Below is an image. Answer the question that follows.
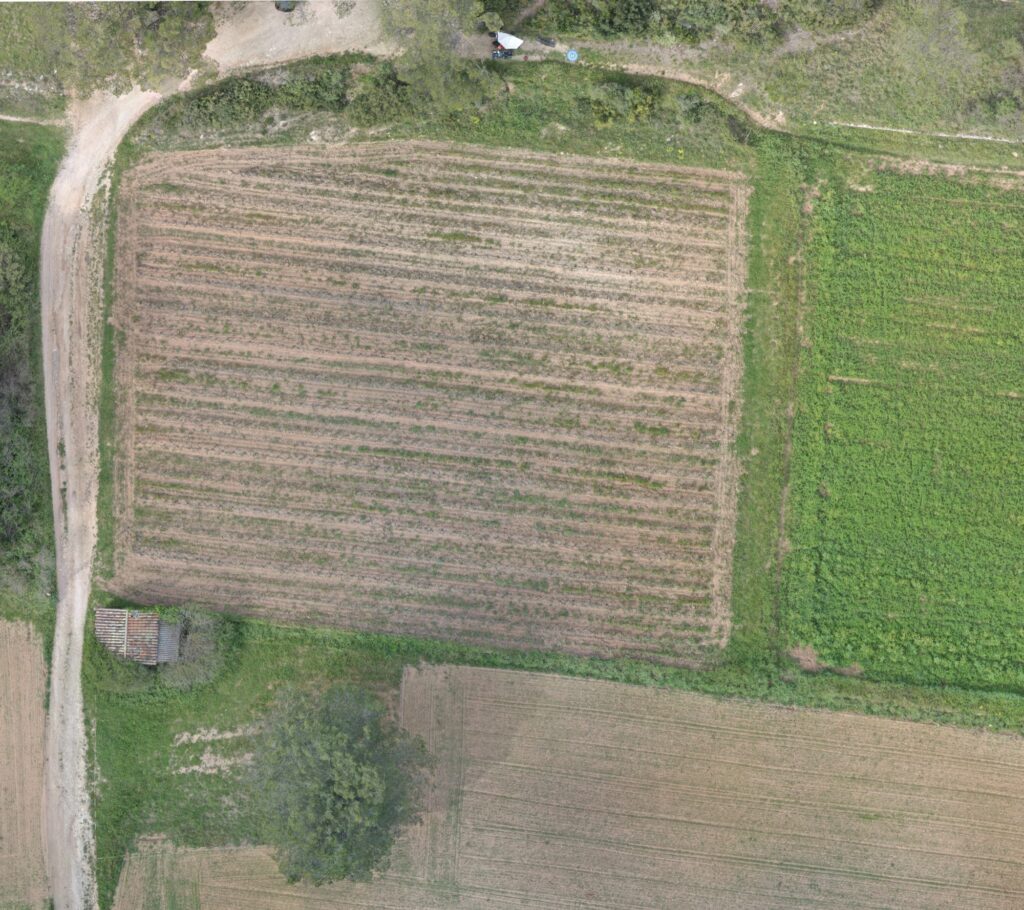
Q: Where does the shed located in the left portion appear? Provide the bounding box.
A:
[94,606,184,666]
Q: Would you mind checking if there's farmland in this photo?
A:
Yes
